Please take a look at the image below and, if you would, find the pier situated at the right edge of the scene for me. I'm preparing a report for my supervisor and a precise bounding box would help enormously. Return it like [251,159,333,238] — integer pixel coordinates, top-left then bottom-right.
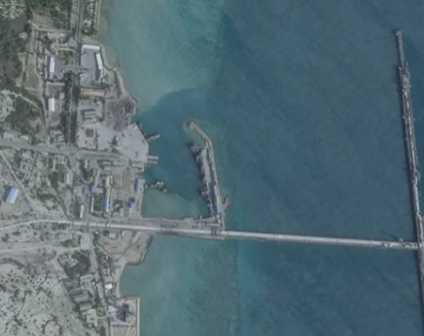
[395,30,424,309]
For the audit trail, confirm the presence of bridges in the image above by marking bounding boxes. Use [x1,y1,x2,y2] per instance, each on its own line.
[141,225,415,249]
